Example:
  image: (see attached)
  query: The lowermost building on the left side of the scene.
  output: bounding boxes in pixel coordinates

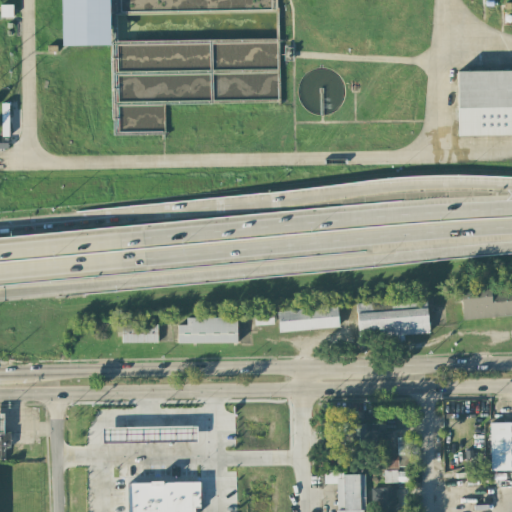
[132,481,202,512]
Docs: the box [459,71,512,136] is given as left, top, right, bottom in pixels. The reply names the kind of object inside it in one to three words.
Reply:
shed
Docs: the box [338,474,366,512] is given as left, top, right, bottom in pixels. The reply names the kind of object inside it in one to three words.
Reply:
building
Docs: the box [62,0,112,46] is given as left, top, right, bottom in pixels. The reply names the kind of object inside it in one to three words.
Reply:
shed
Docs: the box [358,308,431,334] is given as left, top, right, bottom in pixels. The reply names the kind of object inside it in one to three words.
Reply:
house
